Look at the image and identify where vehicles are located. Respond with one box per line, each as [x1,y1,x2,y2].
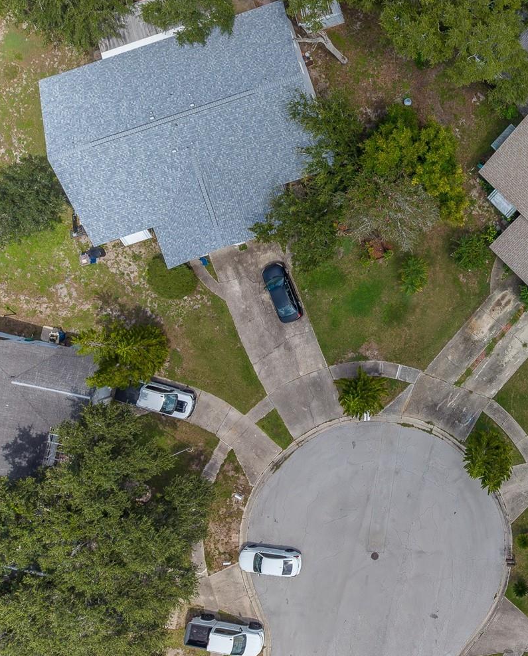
[184,614,268,656]
[262,260,305,324]
[114,378,202,420]
[240,542,305,577]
